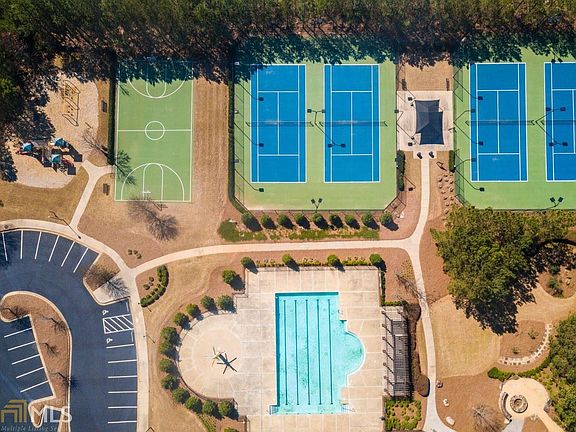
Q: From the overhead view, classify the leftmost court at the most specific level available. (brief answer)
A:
basketball court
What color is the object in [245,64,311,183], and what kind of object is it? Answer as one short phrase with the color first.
blue tennis court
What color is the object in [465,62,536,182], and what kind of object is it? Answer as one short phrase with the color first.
blue tennis court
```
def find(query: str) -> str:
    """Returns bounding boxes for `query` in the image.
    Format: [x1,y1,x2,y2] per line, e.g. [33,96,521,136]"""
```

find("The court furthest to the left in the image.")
[114,61,194,201]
